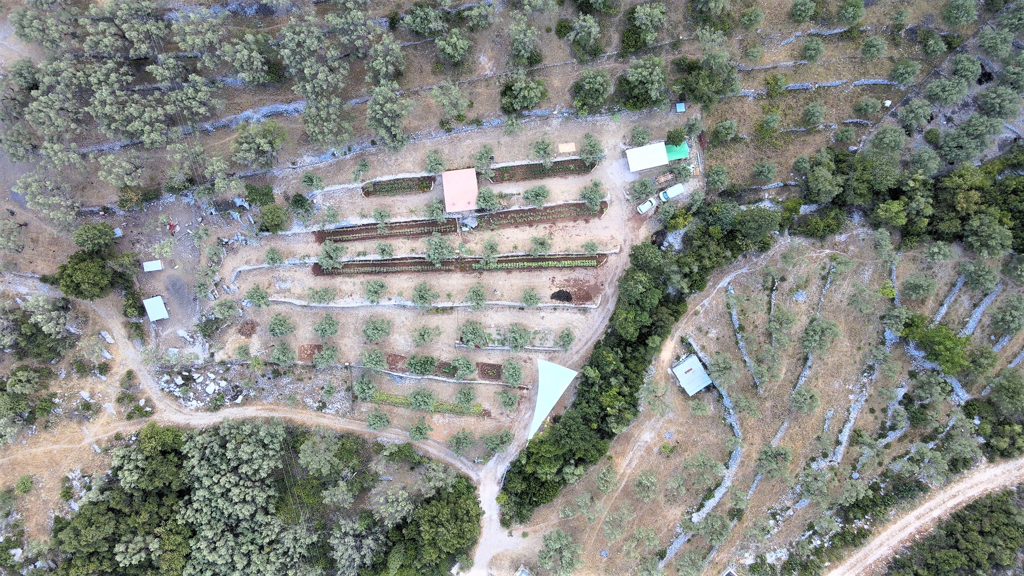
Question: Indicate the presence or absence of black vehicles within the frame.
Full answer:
No, the frame has no black vehicle in it.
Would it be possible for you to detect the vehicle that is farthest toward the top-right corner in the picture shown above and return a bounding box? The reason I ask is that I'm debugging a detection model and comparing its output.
[658,182,686,203]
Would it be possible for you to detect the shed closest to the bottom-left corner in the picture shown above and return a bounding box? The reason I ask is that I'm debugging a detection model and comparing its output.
[144,296,173,321]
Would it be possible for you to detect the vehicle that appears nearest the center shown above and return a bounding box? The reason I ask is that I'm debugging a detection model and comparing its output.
[637,197,657,215]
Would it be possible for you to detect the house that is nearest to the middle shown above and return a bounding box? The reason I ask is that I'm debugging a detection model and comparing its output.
[442,168,478,212]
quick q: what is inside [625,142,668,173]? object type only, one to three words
house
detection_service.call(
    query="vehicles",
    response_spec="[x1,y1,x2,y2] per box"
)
[637,197,657,215]
[658,182,686,203]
